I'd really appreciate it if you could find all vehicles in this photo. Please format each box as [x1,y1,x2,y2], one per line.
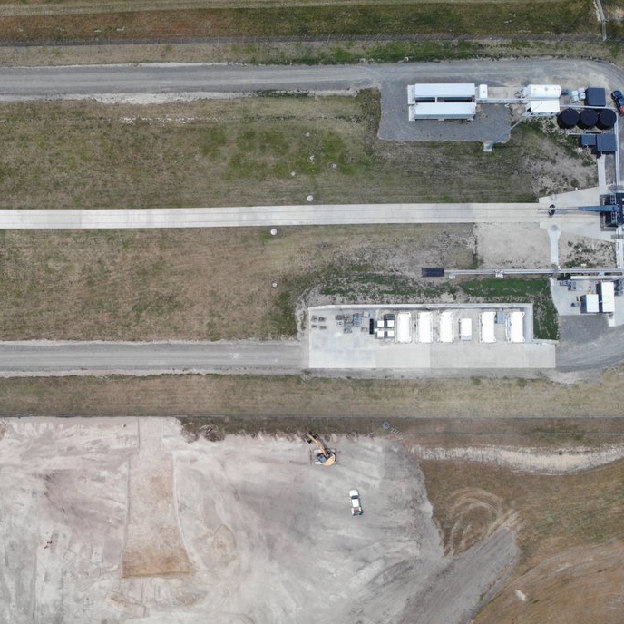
[350,489,361,516]
[610,90,624,116]
[304,431,336,467]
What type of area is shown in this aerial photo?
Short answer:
industrial area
